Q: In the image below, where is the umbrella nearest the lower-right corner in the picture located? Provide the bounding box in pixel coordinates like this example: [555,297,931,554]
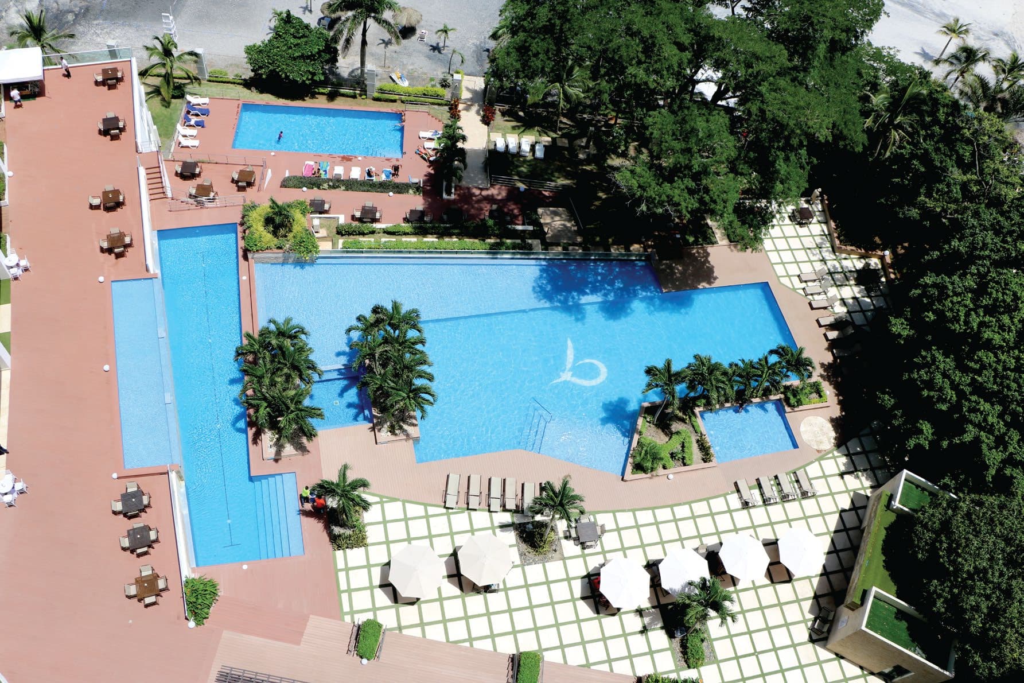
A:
[773,531,822,580]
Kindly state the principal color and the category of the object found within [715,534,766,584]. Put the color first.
white umbrella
